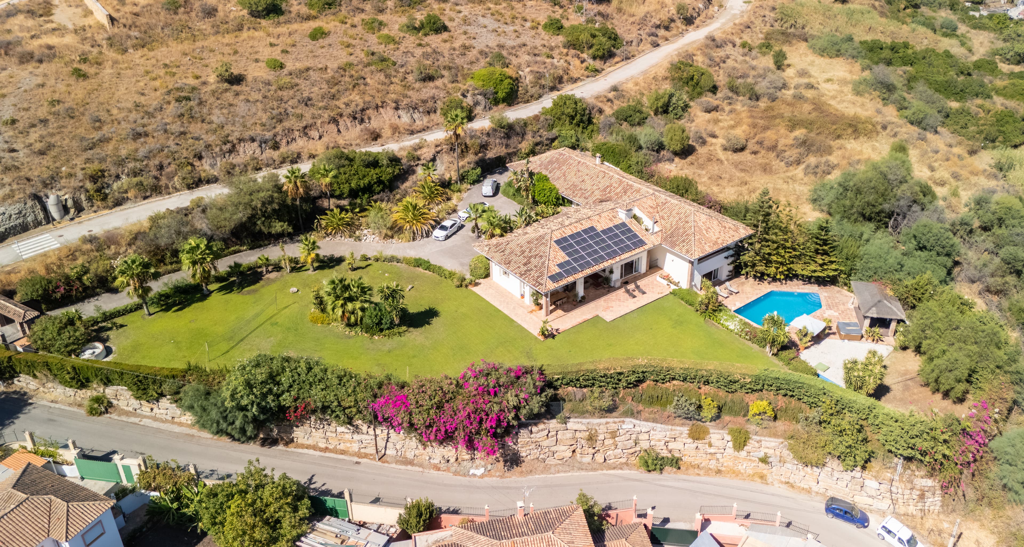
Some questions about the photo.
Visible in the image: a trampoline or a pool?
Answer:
pool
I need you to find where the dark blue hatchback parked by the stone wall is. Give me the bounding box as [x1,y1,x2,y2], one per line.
[822,494,874,531]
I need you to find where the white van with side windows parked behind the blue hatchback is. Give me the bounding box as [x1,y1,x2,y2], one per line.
[870,511,928,547]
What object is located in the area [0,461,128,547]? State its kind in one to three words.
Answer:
house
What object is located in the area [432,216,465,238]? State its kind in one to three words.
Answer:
car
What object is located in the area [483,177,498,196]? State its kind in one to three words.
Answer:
vehicle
